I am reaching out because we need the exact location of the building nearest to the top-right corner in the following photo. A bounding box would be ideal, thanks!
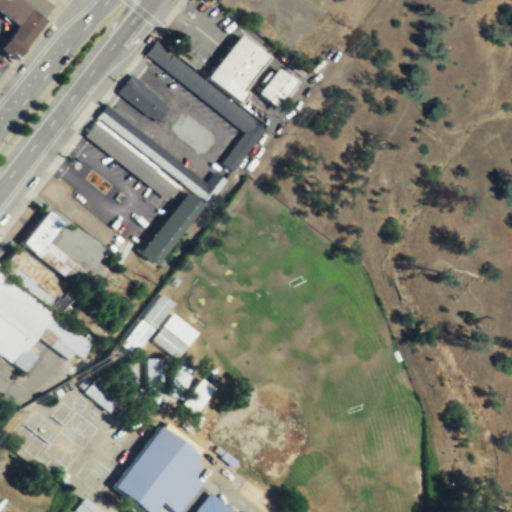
[262,68,301,106]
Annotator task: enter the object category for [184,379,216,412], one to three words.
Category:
house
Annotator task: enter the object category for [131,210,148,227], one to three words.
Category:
vehicle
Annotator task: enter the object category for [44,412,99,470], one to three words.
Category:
basketball court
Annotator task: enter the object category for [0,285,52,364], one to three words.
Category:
building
